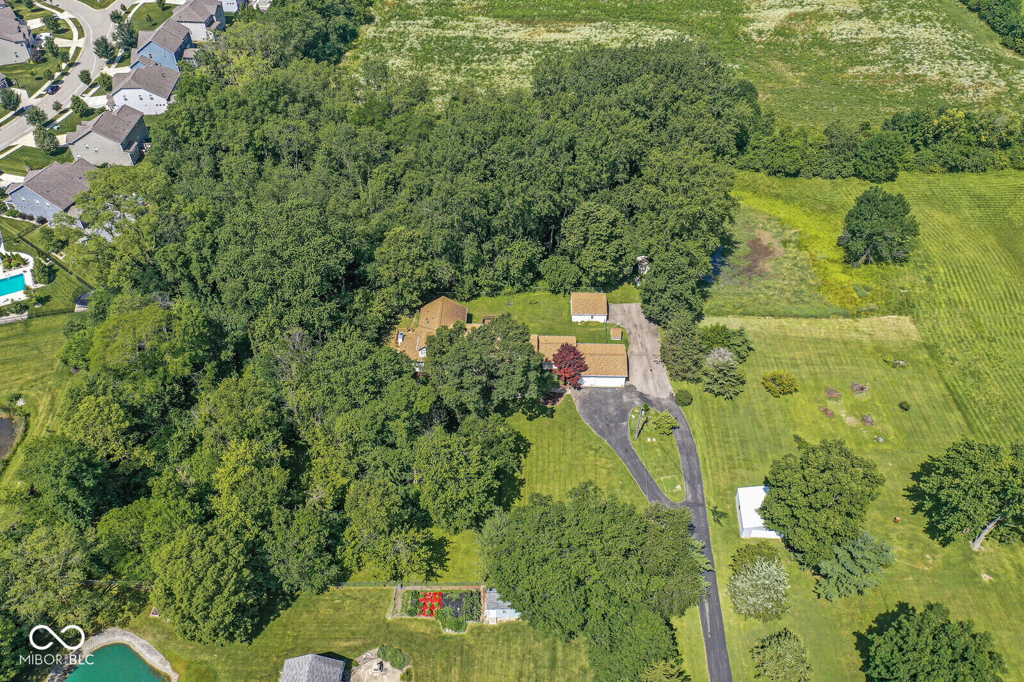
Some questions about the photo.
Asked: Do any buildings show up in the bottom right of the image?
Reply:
Yes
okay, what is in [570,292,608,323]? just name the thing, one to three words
building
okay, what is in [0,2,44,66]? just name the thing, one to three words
house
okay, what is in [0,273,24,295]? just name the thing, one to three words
swimming pool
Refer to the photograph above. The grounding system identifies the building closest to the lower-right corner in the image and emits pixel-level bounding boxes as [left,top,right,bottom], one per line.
[728,484,786,538]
